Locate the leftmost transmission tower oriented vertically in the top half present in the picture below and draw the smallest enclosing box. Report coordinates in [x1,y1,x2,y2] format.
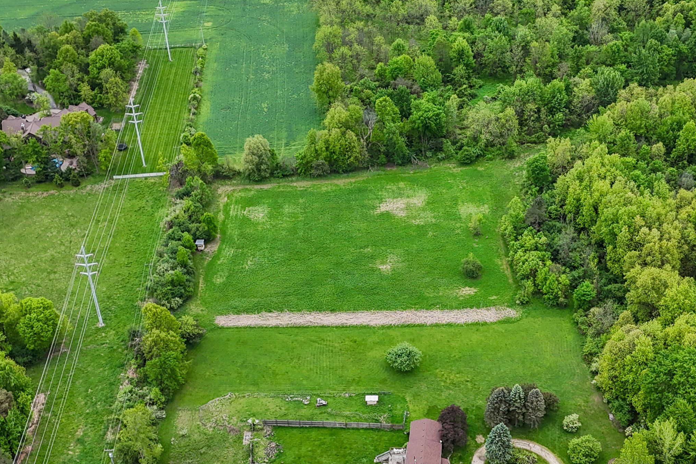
[126,97,148,167]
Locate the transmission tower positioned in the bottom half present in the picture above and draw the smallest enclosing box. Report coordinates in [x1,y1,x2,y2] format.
[75,246,104,327]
